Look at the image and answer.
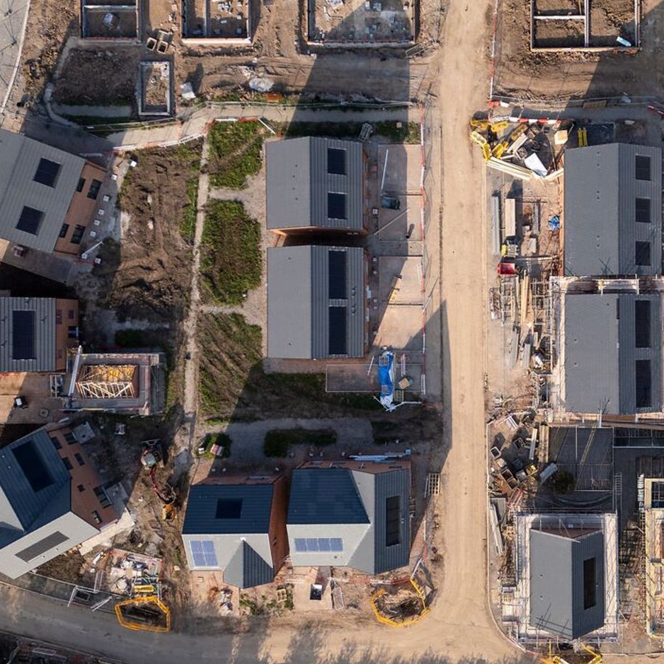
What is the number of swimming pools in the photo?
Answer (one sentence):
The photo contains no swimming pools.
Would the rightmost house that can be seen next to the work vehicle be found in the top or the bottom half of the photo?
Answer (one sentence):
The rightmost house that can be seen next to the work vehicle sits in the bottom half of the picture.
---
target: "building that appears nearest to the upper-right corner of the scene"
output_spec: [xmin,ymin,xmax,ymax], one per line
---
[559,143,662,276]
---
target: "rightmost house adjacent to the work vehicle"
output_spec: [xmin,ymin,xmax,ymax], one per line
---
[181,476,284,590]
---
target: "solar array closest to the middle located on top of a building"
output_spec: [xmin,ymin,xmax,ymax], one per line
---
[329,307,346,353]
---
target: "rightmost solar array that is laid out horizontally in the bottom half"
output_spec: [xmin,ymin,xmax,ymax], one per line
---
[294,538,343,552]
